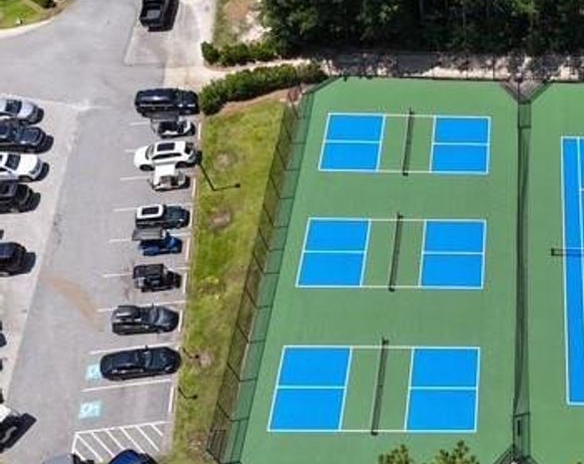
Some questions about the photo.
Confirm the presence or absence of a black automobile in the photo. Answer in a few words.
Yes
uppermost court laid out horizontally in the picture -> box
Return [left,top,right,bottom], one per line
[319,104,490,175]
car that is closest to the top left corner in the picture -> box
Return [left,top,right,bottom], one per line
[0,95,47,125]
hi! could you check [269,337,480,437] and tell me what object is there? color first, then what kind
blue sports court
